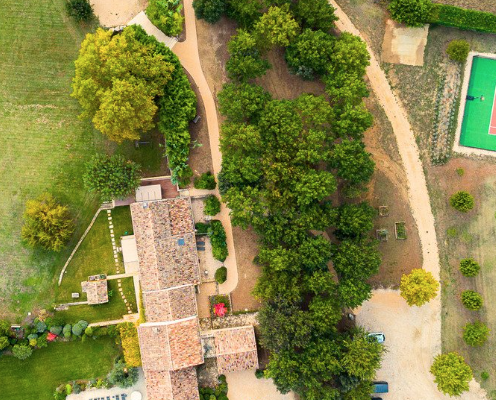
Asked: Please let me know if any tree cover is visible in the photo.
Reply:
Yes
